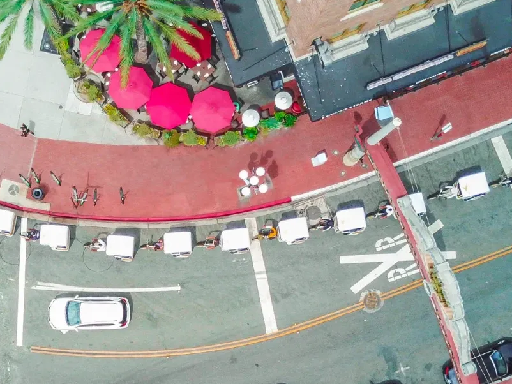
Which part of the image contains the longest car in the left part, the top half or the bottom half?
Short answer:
bottom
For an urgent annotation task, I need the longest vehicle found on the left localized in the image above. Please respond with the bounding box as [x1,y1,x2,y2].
[47,292,133,335]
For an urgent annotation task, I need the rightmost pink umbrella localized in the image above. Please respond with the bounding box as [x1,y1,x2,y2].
[191,86,237,134]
